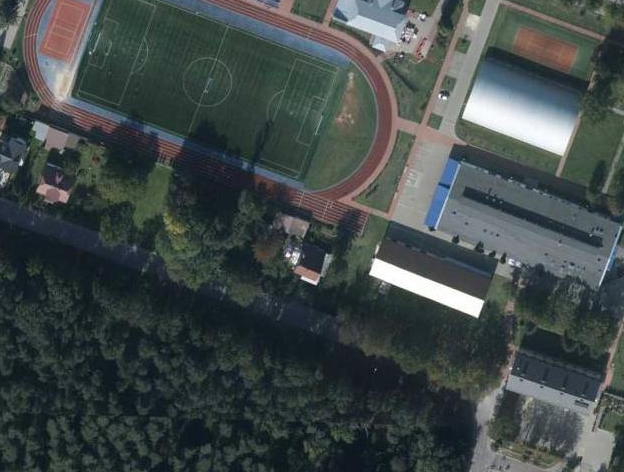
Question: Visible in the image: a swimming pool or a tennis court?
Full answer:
The image shows a tennis court.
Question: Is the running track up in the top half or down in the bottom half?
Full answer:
You can find the running track in the top half.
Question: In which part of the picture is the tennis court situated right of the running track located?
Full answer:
The tennis court situated right of the running track is located in the top right region of the scene.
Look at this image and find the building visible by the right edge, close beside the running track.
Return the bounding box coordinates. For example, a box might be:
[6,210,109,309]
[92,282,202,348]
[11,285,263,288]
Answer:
[425,158,623,287]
